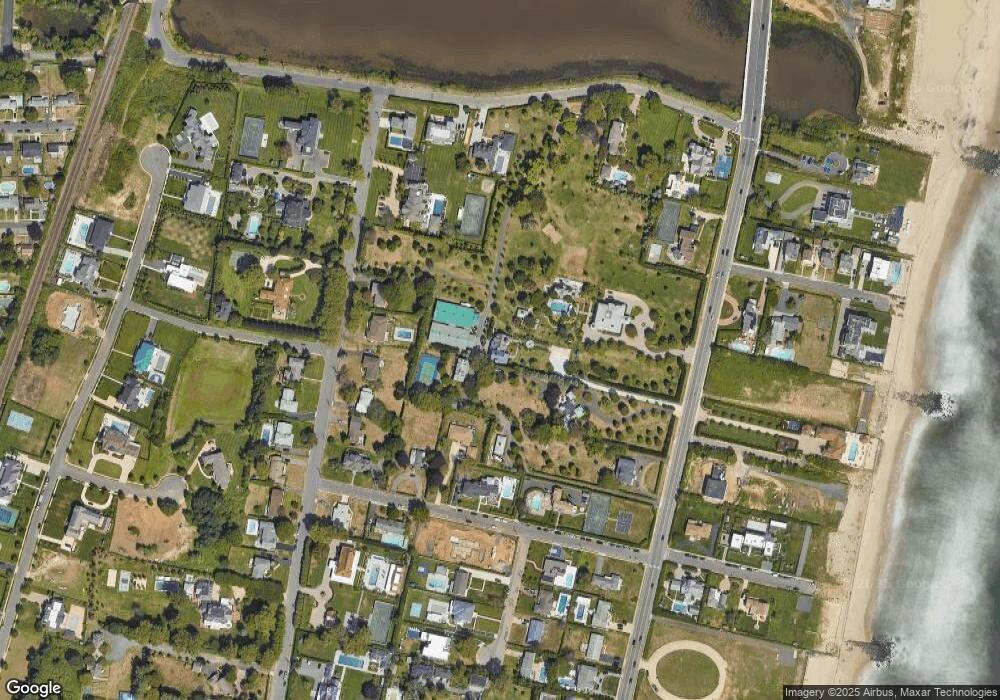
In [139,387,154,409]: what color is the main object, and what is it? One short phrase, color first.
white swimming pool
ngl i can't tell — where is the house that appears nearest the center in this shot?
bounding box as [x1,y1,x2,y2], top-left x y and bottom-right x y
[485,329,510,363]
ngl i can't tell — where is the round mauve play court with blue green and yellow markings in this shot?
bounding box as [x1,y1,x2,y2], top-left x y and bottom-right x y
[823,151,849,176]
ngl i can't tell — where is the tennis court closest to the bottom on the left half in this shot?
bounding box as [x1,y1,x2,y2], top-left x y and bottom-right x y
[370,602,395,641]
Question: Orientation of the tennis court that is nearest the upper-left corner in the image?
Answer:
from top to bottom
